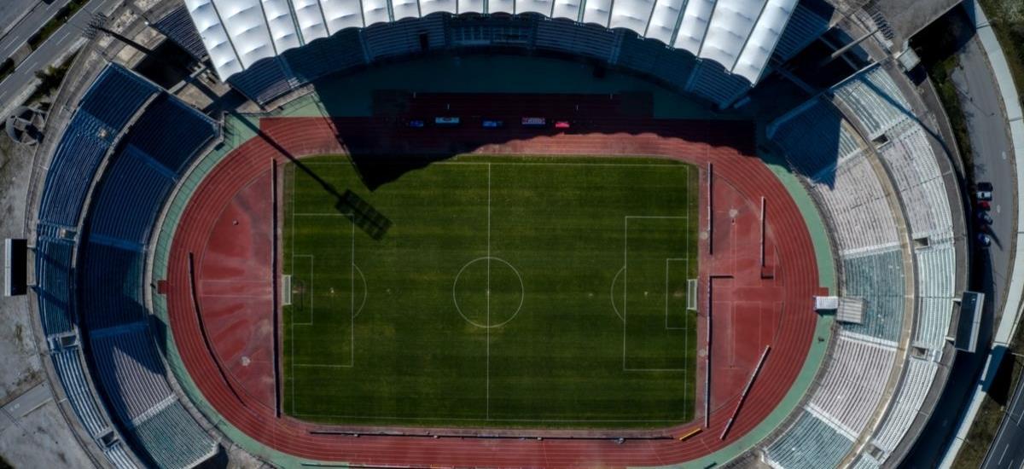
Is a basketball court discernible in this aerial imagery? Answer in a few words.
No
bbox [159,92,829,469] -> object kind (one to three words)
running track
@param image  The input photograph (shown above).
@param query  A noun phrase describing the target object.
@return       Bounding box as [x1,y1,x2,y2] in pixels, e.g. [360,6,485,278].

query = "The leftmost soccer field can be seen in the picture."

[284,154,698,427]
